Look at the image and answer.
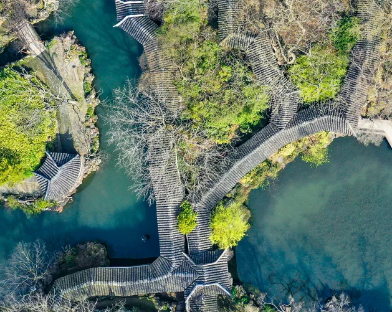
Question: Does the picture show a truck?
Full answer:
No, there appears to be no truck in this shot.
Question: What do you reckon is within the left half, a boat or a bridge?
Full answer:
There is a bridge within the left half.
